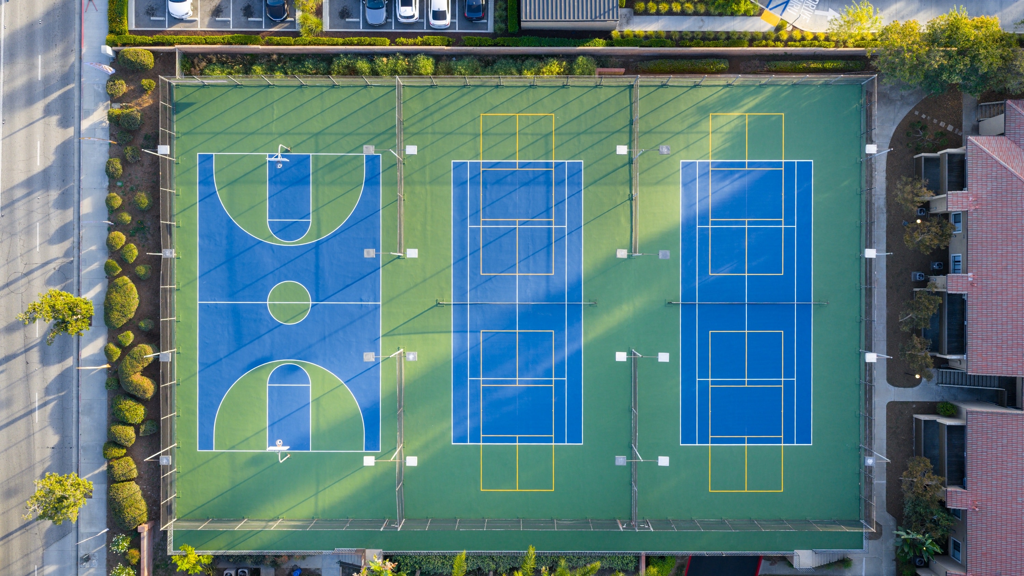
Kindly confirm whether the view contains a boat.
No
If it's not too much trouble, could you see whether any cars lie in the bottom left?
No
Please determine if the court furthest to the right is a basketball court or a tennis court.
tennis court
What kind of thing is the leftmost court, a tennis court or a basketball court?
basketball court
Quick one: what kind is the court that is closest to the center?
tennis court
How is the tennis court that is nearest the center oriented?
vertically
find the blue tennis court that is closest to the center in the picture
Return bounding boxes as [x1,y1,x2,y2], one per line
[452,114,583,491]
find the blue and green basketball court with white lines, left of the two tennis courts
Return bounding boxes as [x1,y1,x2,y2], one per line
[197,153,381,452]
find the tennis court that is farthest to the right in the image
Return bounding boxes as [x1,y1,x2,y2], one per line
[680,113,813,492]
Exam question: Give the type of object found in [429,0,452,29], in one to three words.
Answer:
car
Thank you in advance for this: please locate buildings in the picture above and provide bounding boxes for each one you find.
[913,98,1024,378]
[522,0,622,28]
[902,401,1024,576]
